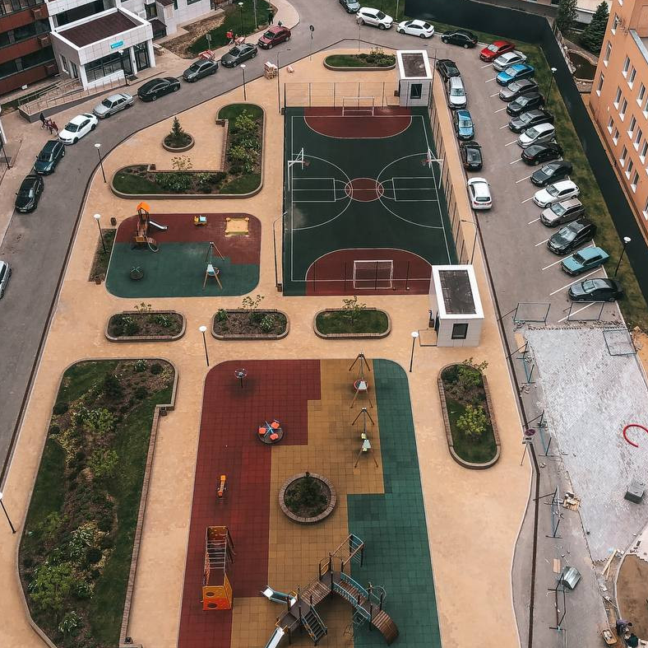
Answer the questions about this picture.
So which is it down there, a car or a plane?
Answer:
car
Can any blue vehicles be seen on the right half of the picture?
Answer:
Yes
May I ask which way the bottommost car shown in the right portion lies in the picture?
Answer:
from side to side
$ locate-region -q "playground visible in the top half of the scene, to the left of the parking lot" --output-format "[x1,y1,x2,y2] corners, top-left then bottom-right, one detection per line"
[104,212,262,298]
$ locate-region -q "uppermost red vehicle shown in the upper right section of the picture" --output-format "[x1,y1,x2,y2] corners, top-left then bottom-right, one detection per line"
[478,40,517,62]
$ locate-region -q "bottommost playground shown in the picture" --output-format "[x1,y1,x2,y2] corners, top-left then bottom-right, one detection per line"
[175,358,443,648]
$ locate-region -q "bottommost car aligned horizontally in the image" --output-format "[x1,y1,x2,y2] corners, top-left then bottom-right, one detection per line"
[566,278,627,307]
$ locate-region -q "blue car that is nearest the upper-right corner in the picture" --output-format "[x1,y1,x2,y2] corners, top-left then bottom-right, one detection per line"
[498,61,534,84]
